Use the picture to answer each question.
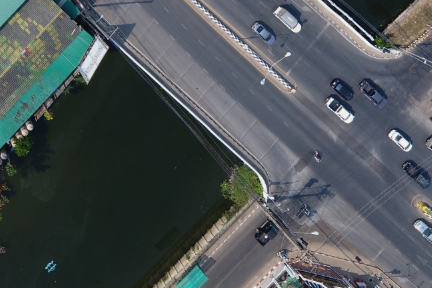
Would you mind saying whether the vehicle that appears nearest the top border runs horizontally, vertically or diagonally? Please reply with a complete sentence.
In this picture, the vehicle that appears nearest the top border lies diagonally.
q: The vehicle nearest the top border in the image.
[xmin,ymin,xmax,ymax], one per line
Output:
[272,6,300,31]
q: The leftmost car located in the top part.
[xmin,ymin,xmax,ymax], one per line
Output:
[250,20,275,44]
